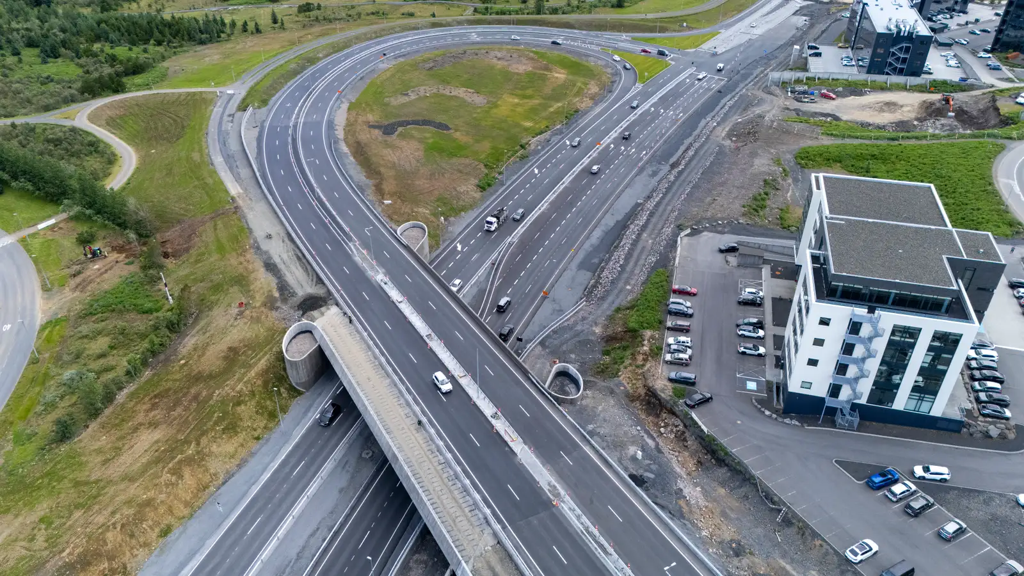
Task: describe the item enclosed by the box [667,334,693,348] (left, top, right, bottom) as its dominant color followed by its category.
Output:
white car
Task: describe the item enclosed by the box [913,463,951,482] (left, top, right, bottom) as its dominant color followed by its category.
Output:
white car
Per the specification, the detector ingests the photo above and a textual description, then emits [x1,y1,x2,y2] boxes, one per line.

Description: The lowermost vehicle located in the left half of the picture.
[318,403,340,426]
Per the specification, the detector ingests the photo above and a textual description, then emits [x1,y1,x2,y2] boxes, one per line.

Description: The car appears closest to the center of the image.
[496,297,512,313]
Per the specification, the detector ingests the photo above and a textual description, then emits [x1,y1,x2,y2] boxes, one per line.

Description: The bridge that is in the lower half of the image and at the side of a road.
[317,217,552,576]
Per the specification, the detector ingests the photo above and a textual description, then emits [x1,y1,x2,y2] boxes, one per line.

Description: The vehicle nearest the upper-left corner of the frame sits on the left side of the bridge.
[79,244,103,259]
